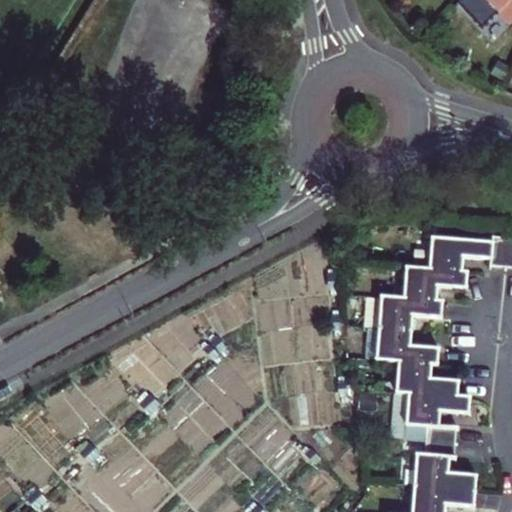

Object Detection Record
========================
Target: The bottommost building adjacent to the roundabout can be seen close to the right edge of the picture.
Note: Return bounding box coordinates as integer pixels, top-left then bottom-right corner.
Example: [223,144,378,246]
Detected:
[376,236,496,428]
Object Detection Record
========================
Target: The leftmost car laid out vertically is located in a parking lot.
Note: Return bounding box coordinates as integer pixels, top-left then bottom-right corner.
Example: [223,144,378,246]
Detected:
[470,276,484,300]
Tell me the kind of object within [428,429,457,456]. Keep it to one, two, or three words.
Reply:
building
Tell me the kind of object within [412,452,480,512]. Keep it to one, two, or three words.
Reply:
building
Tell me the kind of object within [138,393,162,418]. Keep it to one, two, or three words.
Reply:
shed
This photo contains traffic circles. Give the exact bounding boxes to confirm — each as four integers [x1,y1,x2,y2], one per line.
[291,50,428,190]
